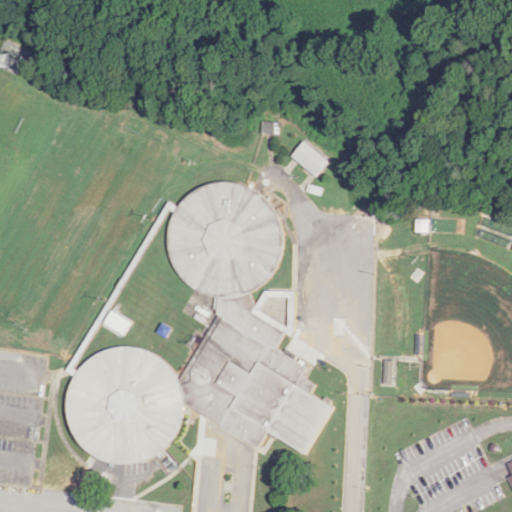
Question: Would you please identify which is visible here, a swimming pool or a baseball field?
baseball field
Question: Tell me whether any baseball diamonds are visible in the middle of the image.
No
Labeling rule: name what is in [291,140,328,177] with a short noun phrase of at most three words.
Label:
barn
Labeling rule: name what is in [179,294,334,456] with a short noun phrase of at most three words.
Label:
building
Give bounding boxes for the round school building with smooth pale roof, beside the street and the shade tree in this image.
[68,348,184,463]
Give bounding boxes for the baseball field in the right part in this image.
[428,320,495,383]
